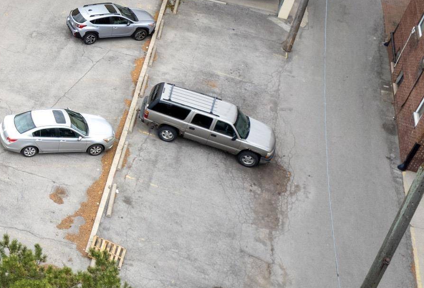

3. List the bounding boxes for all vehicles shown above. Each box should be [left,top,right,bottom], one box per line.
[66,1,155,44]
[147,81,285,169]
[1,108,118,157]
